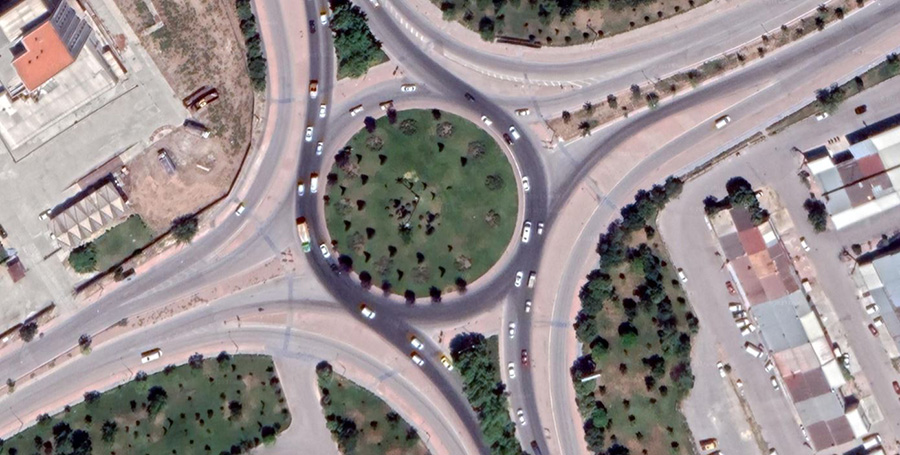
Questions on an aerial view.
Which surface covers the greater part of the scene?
paved ground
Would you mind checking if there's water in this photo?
No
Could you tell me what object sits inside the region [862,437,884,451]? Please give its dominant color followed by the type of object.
white vehicle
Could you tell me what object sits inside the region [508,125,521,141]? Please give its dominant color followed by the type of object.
white vehicle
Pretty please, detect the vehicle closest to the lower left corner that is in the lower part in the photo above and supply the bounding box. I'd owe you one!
[140,349,163,363]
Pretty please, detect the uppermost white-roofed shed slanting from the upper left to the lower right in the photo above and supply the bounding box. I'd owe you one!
[104,47,127,77]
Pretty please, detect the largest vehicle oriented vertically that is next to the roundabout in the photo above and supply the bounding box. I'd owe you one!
[296,219,311,254]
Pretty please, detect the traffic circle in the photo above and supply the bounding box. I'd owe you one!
[316,0,548,321]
